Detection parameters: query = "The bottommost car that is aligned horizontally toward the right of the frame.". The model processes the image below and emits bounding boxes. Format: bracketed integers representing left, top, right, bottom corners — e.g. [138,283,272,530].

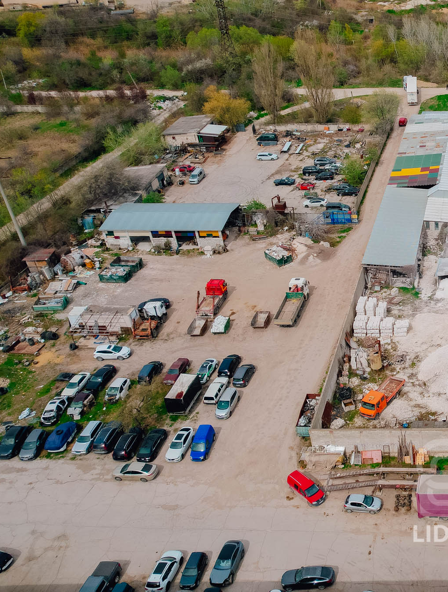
[279,565,337,592]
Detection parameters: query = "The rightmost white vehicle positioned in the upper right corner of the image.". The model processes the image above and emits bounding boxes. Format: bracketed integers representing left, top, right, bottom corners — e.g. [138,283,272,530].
[407,75,424,102]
